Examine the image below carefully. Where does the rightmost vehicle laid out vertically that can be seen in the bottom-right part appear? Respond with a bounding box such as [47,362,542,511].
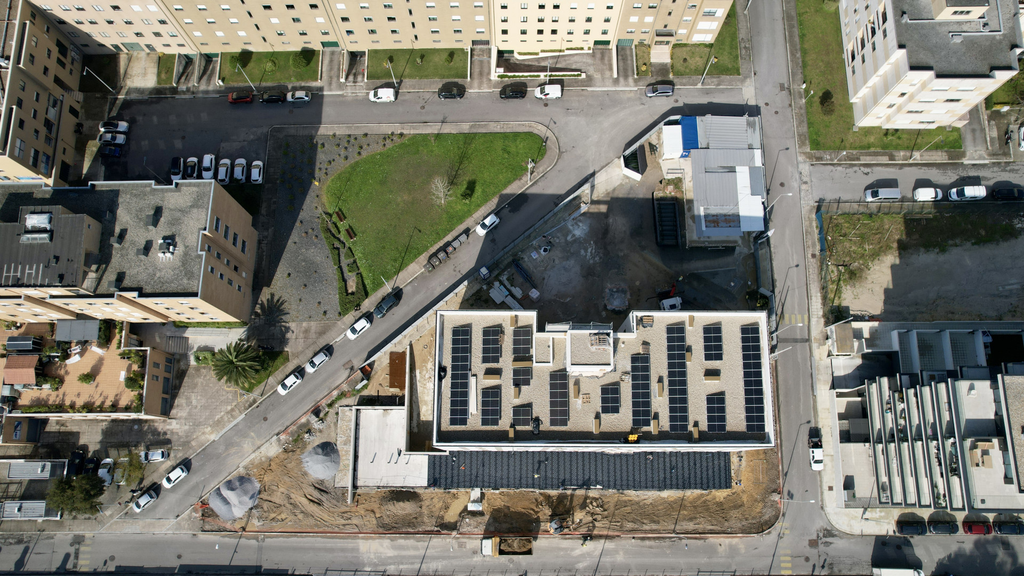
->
[807,428,825,471]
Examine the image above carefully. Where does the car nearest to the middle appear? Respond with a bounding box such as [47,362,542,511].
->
[475,213,500,236]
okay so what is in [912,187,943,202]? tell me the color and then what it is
white vehicle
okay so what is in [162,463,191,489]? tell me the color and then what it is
white car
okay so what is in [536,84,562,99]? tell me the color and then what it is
white vehicle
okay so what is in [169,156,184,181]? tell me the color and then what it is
black car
